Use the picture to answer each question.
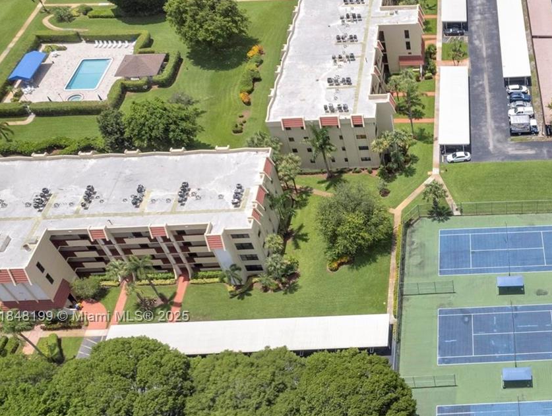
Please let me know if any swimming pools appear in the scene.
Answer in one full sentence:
Yes, the image includes a swimming pool.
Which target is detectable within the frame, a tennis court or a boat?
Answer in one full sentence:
This aerial view contains a tennis court.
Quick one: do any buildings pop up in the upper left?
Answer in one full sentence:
Yes, a building can be seen in the upper left.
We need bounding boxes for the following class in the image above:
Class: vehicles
[509,100,529,110]
[537,127,552,138]
[508,114,539,132]
[508,107,536,118]
[447,151,472,163]
[507,84,528,95]
[509,94,531,103]
[444,25,464,35]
